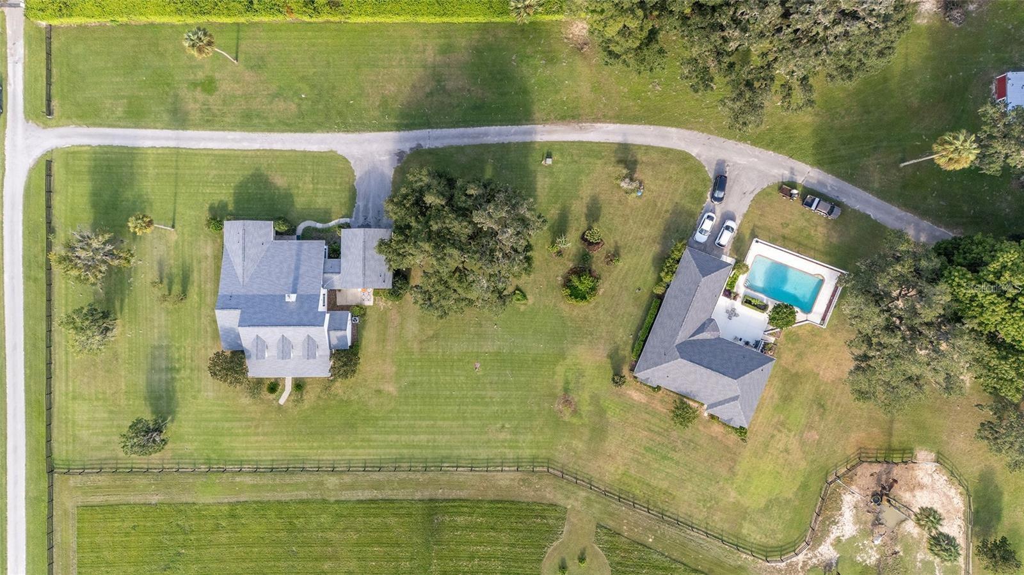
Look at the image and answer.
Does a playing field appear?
No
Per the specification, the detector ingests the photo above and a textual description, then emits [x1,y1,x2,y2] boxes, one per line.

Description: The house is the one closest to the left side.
[215,220,393,377]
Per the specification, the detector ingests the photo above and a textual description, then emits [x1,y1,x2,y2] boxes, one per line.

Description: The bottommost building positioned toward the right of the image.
[634,246,775,428]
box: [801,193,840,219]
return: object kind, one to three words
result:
truck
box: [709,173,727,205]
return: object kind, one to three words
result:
car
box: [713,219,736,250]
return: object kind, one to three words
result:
car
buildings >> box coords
[994,68,1024,119]
[634,246,775,428]
[215,220,393,377]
